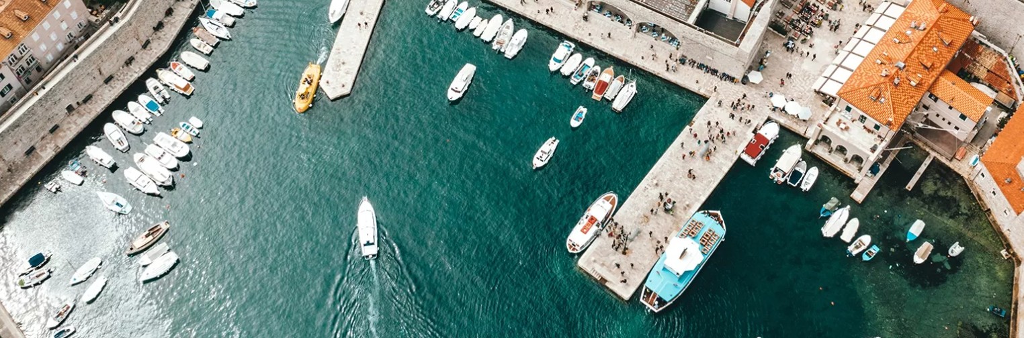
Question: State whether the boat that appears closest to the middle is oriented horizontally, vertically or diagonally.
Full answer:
In this picture, the boat that appears closest to the middle lies diagonally.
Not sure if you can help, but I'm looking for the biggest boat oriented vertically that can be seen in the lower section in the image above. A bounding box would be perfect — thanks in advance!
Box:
[357,194,379,264]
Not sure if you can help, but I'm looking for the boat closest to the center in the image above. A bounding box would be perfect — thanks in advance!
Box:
[532,135,561,169]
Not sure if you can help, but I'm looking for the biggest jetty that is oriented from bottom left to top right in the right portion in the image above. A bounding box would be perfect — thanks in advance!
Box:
[579,98,768,303]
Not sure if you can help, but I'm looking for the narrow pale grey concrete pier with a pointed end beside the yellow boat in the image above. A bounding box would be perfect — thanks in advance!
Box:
[320,0,386,104]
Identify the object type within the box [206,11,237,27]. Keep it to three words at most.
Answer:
boat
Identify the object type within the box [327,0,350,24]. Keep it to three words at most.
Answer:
boat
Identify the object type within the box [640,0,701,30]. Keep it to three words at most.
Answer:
building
